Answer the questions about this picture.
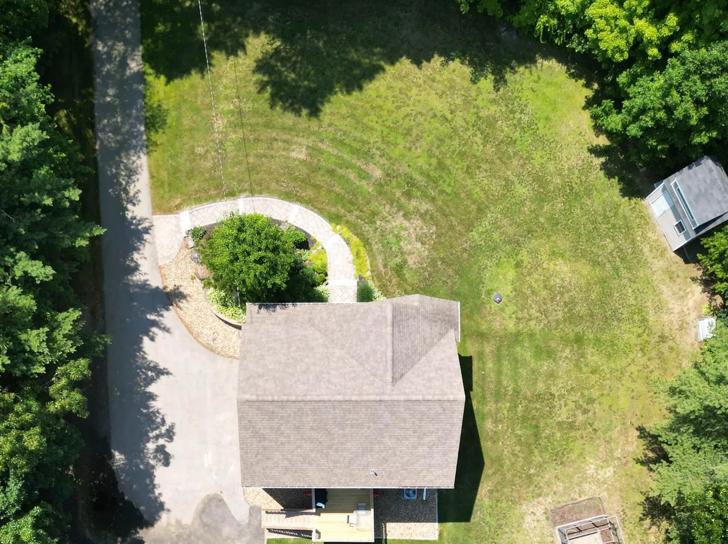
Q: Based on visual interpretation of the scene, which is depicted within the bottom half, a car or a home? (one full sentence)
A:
Looking within the bottom half, you will find a home.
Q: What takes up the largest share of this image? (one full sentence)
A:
The largest share of the image is taken up by grass.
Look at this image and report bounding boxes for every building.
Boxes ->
[646,154,728,252]
[235,288,464,490]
